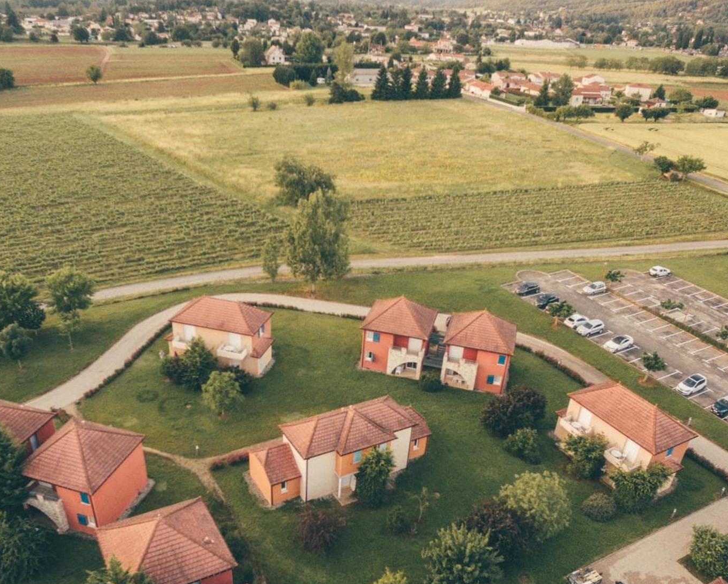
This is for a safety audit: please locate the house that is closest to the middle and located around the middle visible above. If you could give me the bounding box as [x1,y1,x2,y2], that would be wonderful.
[359,293,439,375]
